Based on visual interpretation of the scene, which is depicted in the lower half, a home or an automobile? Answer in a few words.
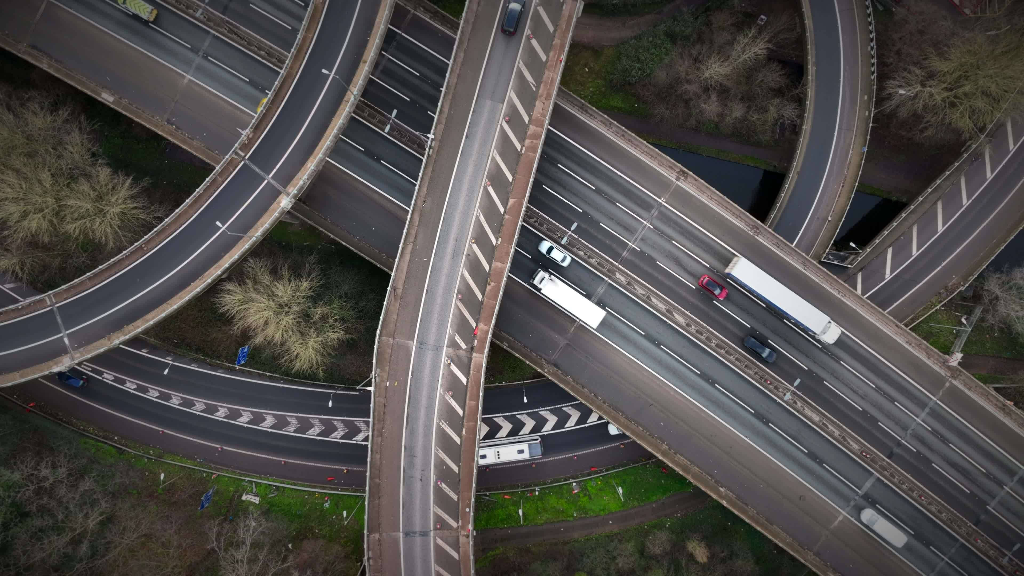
automobile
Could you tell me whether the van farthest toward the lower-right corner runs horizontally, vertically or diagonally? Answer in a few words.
diagonally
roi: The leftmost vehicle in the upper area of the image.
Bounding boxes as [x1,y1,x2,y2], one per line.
[106,0,158,24]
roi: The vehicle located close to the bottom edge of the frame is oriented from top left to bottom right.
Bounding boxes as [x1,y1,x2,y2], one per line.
[860,507,913,551]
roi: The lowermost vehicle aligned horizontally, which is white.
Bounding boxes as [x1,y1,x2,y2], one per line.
[477,437,542,467]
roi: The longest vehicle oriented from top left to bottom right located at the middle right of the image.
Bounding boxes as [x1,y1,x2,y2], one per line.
[724,256,839,347]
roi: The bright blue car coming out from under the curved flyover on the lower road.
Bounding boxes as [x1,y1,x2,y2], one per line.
[56,369,87,389]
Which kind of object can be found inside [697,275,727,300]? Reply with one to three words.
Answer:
car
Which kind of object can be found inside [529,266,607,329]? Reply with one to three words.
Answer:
truck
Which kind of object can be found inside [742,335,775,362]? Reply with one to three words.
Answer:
car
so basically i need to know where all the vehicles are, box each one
[256,99,264,111]
[860,507,913,551]
[529,266,607,329]
[106,0,158,24]
[56,369,87,389]
[724,256,839,347]
[697,275,727,300]
[607,422,623,435]
[537,240,571,267]
[742,335,775,362]
[477,437,542,467]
